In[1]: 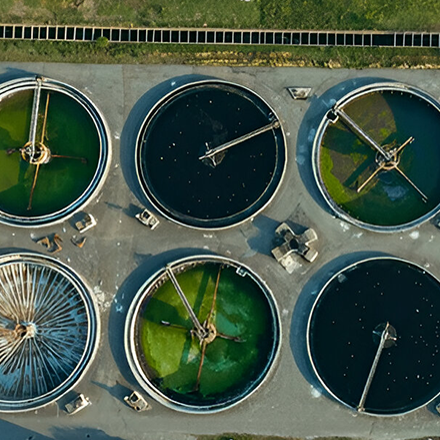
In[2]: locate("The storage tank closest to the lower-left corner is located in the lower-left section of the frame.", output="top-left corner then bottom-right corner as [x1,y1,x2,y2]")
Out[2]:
[0,252,102,410]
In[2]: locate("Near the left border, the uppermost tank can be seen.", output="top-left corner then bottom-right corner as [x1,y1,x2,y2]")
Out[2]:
[0,75,112,228]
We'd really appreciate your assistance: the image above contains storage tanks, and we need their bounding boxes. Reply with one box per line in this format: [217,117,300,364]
[124,254,283,413]
[306,257,440,415]
[135,80,286,230]
[0,75,112,228]
[0,252,102,410]
[312,82,440,233]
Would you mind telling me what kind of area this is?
industrial area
